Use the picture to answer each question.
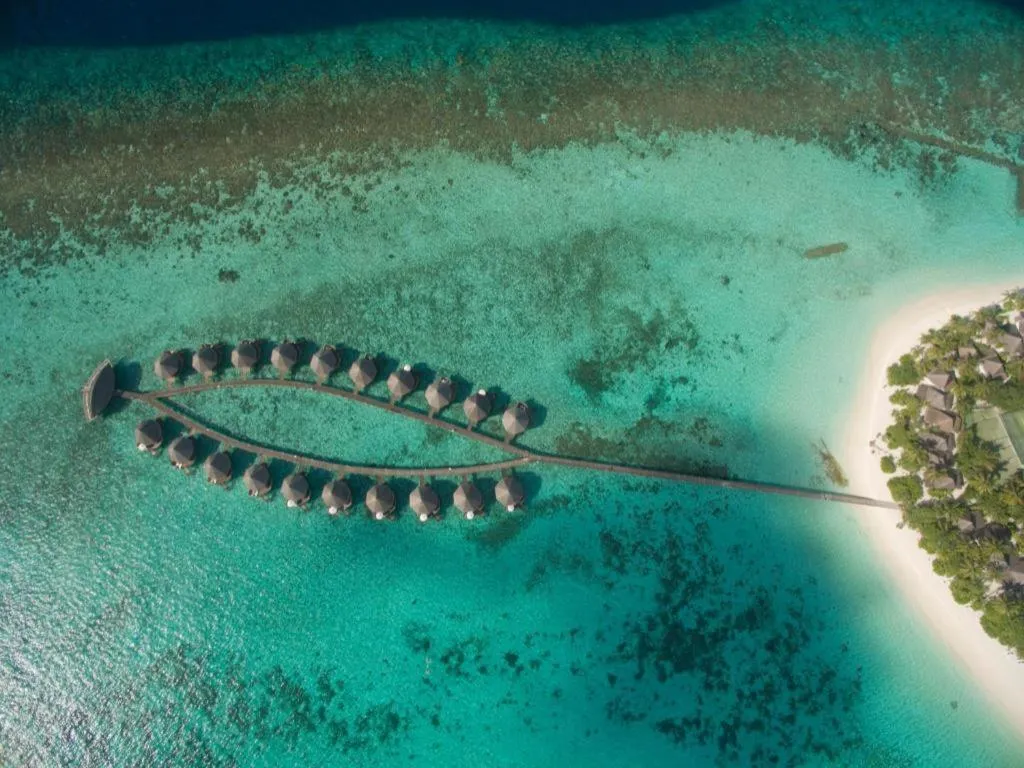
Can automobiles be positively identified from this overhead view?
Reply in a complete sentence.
No, there isn't any automobile down there.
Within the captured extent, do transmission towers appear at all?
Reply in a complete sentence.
No, this view has no transmission tower in it.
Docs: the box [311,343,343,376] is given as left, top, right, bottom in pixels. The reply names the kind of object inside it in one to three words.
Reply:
house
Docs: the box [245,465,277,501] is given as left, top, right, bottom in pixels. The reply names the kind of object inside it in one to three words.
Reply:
house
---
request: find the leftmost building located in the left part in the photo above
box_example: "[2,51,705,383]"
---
[80,358,116,421]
